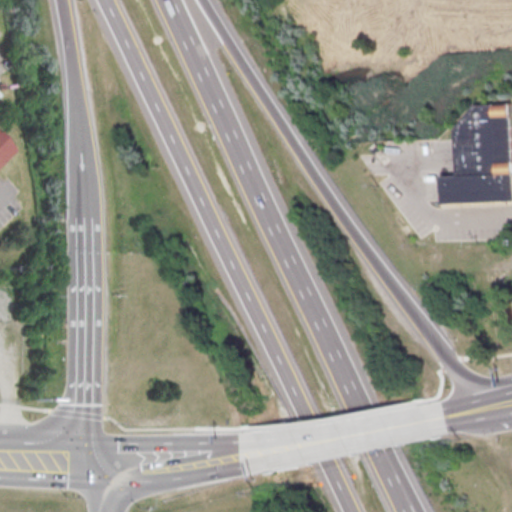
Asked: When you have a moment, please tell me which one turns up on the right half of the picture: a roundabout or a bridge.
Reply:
bridge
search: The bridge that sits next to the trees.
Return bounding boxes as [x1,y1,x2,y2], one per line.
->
[238,398,448,477]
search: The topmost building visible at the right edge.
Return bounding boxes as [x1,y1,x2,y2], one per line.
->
[438,102,512,209]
